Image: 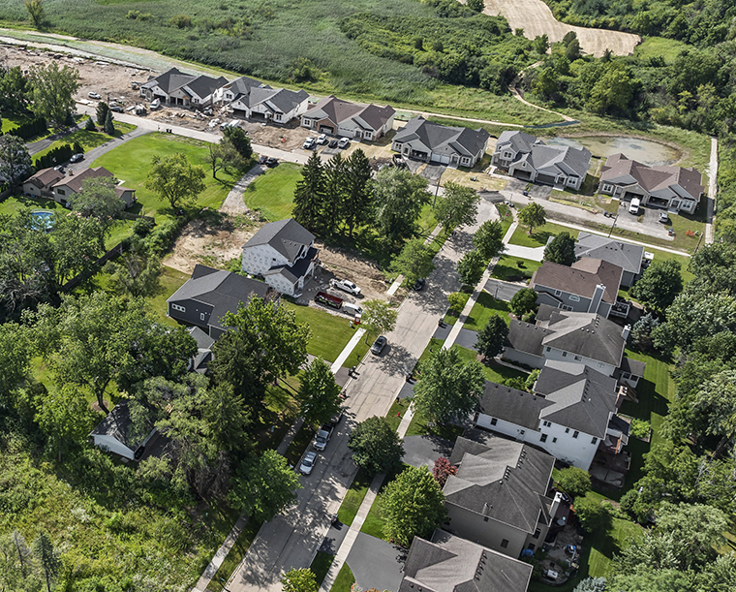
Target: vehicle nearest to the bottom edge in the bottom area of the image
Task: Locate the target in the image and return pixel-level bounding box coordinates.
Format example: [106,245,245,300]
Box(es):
[300,451,318,473]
